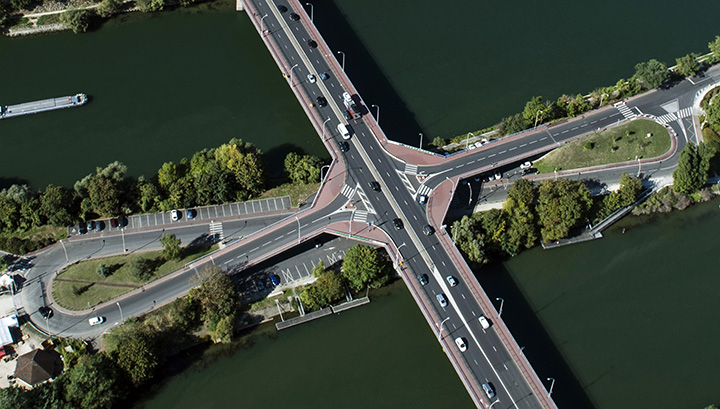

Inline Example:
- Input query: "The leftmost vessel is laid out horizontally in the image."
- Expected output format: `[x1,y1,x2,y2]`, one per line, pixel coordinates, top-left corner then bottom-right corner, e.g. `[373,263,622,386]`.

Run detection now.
[0,95,87,121]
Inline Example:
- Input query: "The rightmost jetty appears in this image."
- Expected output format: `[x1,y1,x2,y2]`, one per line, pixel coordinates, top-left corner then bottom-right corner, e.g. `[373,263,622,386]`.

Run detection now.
[541,190,653,250]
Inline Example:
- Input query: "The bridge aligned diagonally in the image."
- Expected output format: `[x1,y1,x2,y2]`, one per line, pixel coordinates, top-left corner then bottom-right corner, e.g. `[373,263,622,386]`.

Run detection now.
[240,0,560,409]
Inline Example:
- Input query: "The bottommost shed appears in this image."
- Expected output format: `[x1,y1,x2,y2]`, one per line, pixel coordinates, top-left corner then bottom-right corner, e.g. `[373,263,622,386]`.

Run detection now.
[14,349,53,387]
